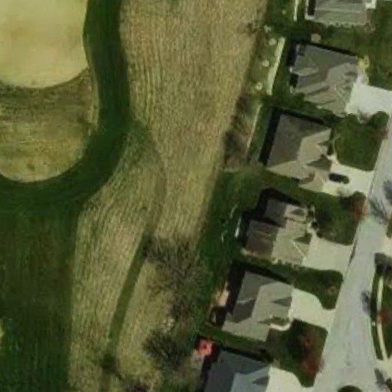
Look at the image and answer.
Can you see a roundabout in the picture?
No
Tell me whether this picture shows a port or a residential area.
residential area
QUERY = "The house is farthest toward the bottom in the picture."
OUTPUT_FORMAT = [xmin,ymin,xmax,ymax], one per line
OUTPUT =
[210,350,275,392]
